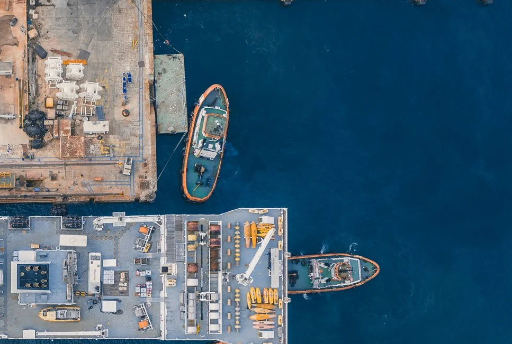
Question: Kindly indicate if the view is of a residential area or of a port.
port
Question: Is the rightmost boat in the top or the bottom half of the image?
bottom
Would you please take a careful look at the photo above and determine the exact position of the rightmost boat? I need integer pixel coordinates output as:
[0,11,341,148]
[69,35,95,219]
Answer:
[290,250,386,296]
